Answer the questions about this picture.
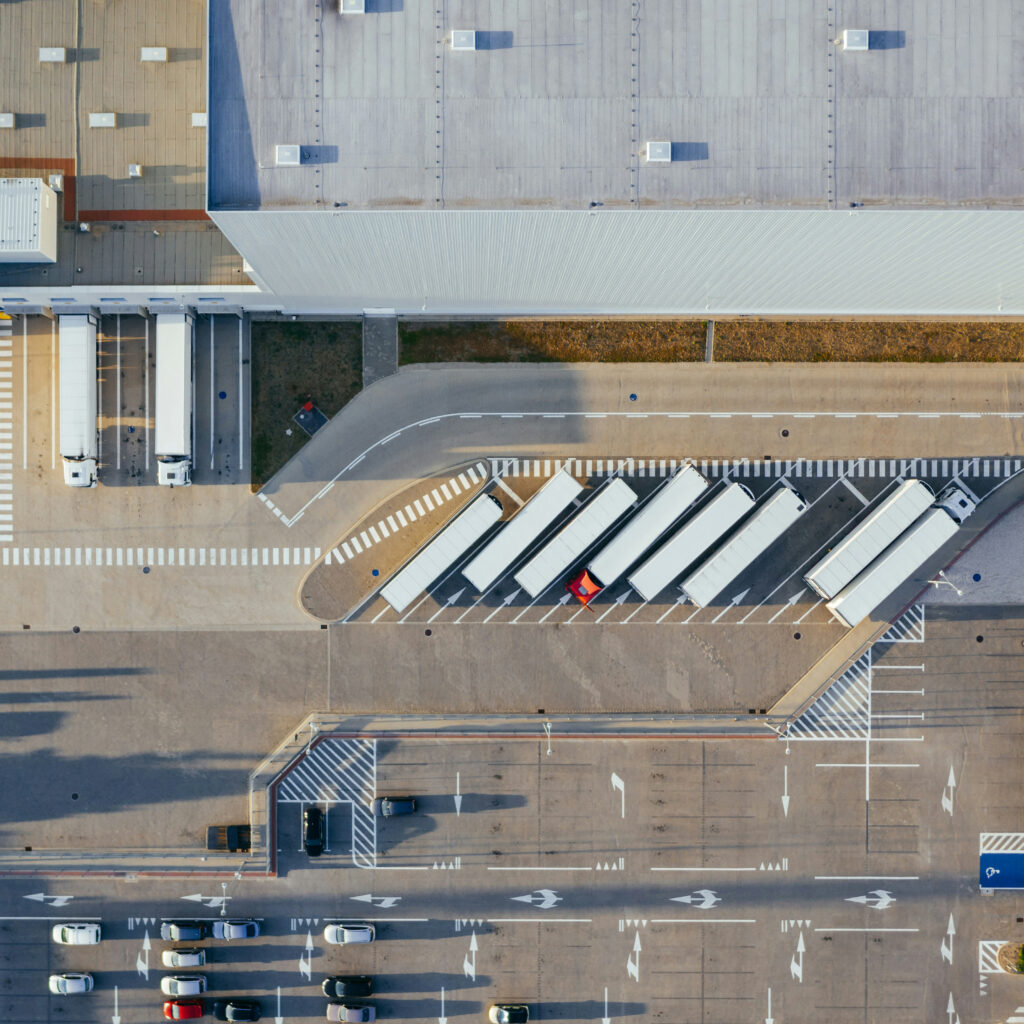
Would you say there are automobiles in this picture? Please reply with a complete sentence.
Yes, the frame does contain an automobile.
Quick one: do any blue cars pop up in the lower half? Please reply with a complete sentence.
Yes, the scene does show a blue car in the lower half.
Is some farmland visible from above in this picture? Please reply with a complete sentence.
No, there's no farmland in this view.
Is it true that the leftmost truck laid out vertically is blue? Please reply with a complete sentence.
No, the leftmost truck laid out vertically is white.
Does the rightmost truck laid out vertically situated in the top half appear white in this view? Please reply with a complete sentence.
Yes, the rightmost truck laid out vertically situated in the top half appears white.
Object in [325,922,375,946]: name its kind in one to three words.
car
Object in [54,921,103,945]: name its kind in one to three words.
car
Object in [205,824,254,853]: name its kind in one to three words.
truck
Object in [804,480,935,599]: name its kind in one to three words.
trailer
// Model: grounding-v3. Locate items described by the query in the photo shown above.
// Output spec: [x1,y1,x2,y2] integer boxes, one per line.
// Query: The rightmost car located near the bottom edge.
[489,1001,530,1024]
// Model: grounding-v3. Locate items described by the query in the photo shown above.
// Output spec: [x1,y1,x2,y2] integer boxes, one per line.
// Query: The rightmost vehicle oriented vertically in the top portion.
[157,315,194,486]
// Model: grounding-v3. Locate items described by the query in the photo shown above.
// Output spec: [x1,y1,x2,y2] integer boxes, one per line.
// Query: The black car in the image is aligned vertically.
[301,806,325,857]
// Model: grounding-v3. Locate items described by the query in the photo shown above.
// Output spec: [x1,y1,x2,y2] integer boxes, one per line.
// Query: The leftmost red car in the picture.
[164,998,206,1022]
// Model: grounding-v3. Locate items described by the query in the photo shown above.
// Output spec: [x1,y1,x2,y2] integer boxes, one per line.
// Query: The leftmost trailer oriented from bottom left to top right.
[381,492,502,612]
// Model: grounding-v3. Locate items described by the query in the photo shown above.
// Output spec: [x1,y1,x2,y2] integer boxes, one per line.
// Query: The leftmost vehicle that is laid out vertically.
[60,315,101,488]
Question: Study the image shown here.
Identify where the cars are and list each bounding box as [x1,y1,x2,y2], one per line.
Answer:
[164,998,206,1022]
[325,922,375,946]
[50,972,96,996]
[489,1001,530,1024]
[327,1001,376,1024]
[323,975,373,999]
[214,999,263,1023]
[162,919,208,943]
[301,806,325,857]
[163,947,207,970]
[54,921,103,945]
[213,918,262,942]
[161,973,208,998]
[370,795,416,818]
